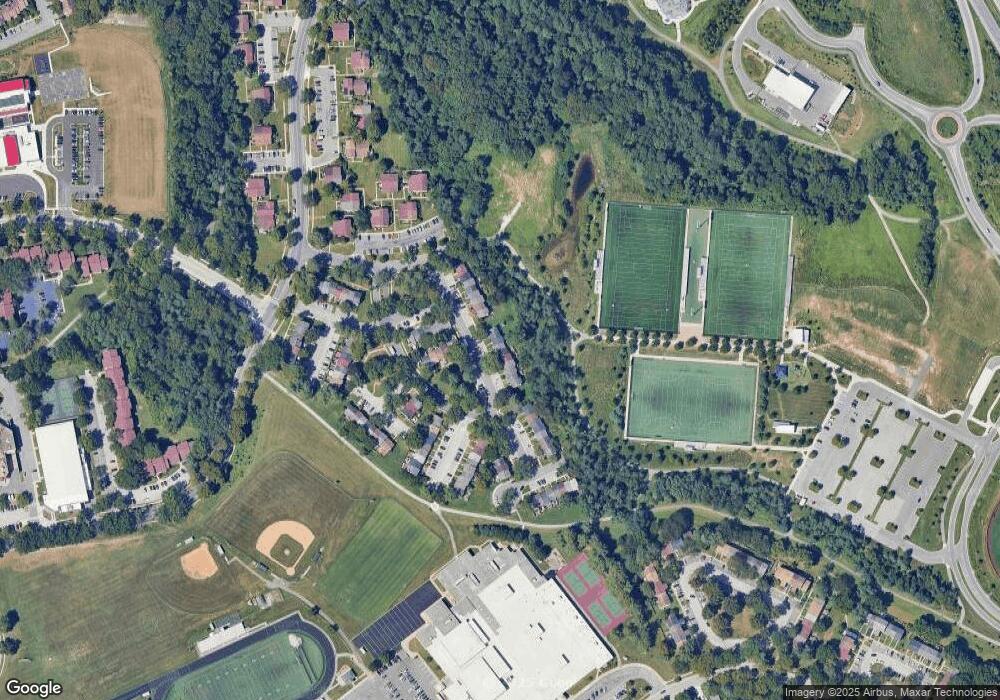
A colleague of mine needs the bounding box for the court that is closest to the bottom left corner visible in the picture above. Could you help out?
[47,377,80,421]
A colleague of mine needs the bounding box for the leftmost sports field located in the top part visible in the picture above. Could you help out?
[601,203,688,334]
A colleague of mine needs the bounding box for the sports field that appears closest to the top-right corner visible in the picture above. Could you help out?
[704,210,791,341]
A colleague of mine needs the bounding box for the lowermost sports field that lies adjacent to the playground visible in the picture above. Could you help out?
[626,356,757,445]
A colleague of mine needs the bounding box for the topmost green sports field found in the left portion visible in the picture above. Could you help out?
[318,497,441,622]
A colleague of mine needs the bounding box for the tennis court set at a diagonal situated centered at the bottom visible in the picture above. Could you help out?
[558,553,627,635]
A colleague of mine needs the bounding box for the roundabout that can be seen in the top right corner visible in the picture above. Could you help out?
[928,105,969,146]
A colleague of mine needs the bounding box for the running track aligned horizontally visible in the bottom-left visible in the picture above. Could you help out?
[105,611,336,700]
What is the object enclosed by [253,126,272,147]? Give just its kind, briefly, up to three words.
house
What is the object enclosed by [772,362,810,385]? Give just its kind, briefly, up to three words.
playground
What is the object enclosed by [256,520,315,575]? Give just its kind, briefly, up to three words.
baseball field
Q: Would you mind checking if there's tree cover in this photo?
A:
Yes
